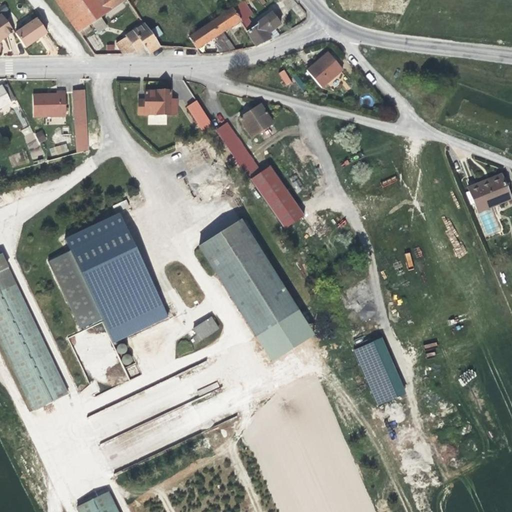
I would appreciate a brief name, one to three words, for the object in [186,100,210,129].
building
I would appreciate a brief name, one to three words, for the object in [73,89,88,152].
barn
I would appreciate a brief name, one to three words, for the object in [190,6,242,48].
house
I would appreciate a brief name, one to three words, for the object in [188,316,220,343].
shed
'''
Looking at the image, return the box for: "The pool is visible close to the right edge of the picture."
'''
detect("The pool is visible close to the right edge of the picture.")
[478,211,500,236]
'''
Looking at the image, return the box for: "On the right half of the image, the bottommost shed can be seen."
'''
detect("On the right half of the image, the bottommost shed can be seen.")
[354,338,406,406]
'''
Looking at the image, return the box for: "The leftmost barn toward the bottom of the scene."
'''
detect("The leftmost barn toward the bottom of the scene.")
[0,250,68,411]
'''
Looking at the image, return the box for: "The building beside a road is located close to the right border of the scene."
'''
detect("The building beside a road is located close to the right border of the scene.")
[468,172,512,212]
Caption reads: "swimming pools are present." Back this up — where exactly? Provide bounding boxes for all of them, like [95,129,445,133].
[360,93,374,107]
[478,211,500,236]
